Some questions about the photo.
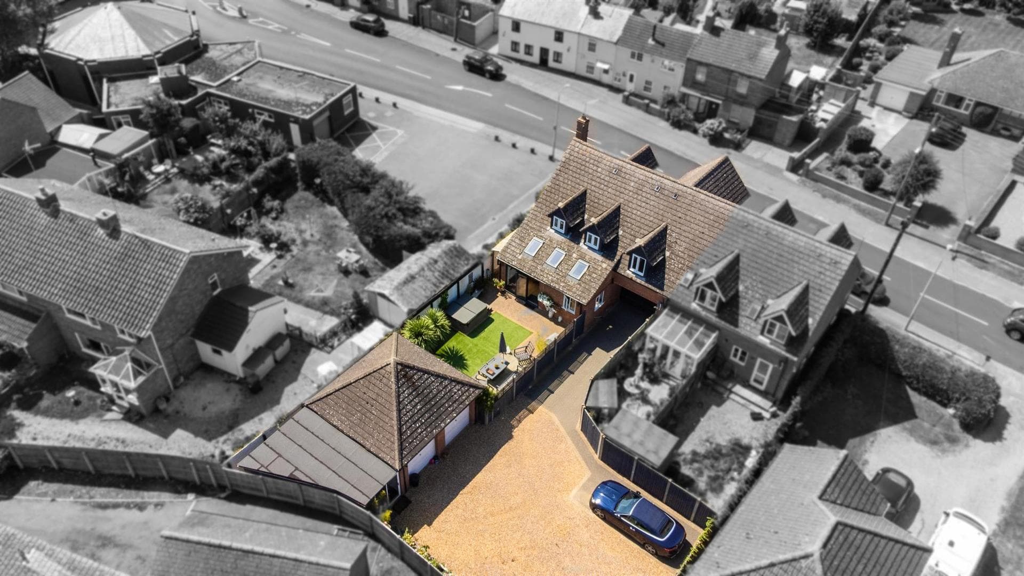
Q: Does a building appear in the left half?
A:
Yes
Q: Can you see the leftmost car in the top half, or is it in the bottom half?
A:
top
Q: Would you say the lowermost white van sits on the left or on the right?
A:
right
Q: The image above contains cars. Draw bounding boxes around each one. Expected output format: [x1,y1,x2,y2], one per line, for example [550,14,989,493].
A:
[871,469,914,523]
[995,310,1024,340]
[587,480,689,558]
[921,117,977,149]
[350,15,389,39]
[459,49,506,81]
[847,265,890,303]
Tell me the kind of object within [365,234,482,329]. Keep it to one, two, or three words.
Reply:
shed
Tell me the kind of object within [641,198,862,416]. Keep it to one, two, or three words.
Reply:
house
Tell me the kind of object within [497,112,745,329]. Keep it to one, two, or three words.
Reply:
house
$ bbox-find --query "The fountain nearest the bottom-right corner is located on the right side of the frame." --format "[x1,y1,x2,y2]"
[626,373,647,395]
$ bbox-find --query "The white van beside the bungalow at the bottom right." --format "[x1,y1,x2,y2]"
[922,513,999,576]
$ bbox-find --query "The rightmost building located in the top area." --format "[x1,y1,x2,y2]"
[872,27,1024,141]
